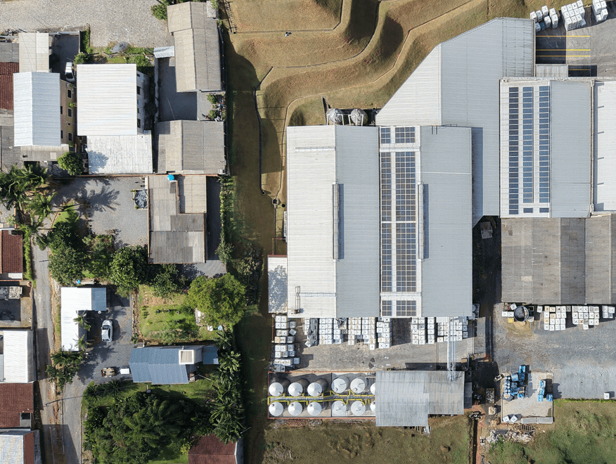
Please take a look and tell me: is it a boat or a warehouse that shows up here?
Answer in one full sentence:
Visible in the photo is a warehouse.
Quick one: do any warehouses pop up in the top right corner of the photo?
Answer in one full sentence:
Yes, you'll find a warehouse in the top right corner of the photo.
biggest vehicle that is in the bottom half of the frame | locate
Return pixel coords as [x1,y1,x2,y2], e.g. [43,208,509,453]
[101,320,114,342]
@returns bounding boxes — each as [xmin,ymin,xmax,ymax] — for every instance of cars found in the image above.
[62,59,77,80]
[101,320,114,342]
